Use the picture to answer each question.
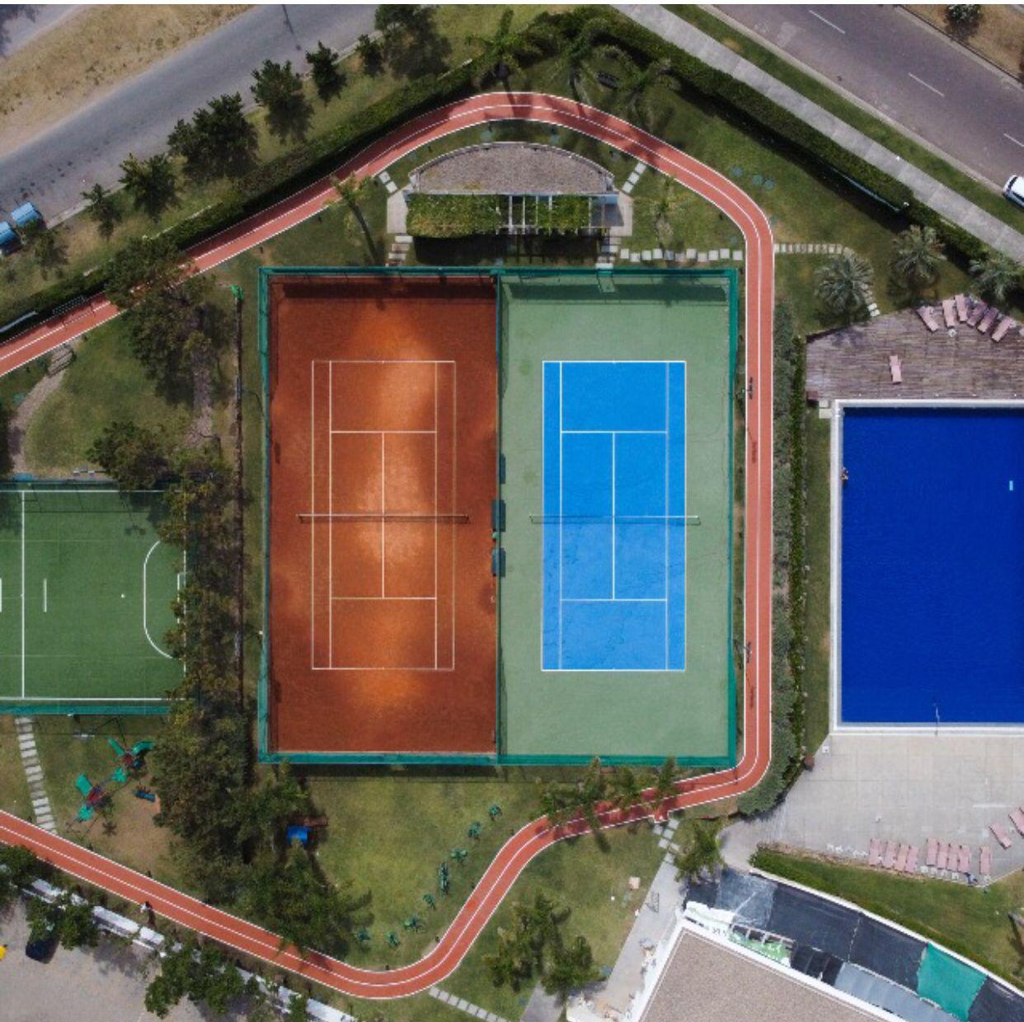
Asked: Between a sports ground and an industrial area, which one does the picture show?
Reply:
sports ground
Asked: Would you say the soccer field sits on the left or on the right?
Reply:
left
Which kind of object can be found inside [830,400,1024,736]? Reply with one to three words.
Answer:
swimming pool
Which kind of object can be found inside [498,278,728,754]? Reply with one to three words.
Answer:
tennis court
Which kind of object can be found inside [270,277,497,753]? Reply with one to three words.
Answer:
tennis court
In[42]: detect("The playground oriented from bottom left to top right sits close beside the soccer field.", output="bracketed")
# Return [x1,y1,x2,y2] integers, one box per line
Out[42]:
[69,736,156,828]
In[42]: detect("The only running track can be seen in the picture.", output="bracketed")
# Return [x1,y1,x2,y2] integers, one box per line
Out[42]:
[0,92,773,999]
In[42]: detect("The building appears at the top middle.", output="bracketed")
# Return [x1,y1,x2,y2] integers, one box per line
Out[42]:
[409,141,624,238]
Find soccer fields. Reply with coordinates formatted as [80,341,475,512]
[0,481,195,703]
